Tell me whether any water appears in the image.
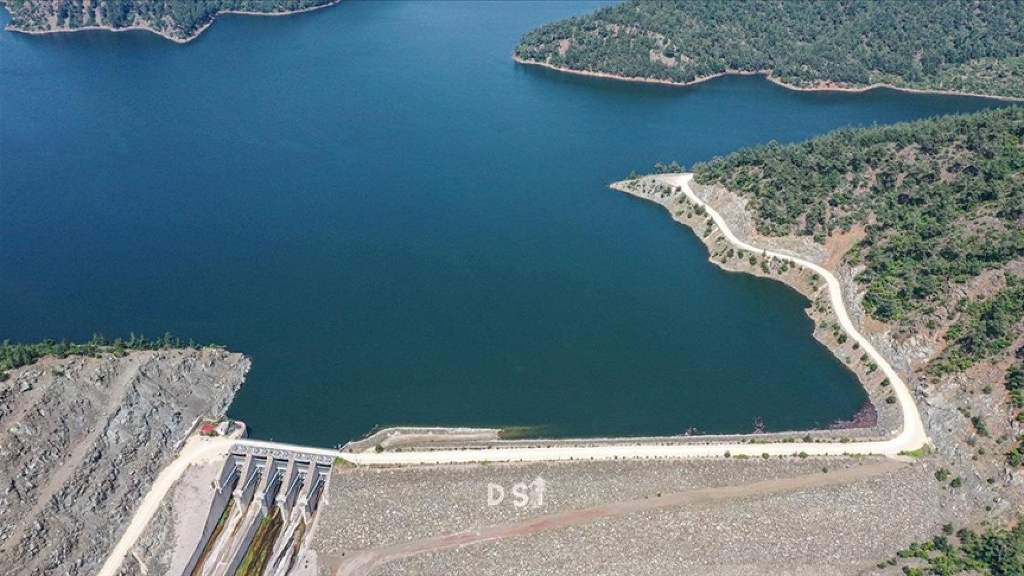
Yes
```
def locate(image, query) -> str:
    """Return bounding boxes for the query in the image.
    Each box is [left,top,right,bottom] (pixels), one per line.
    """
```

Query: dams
[307,432,945,576]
